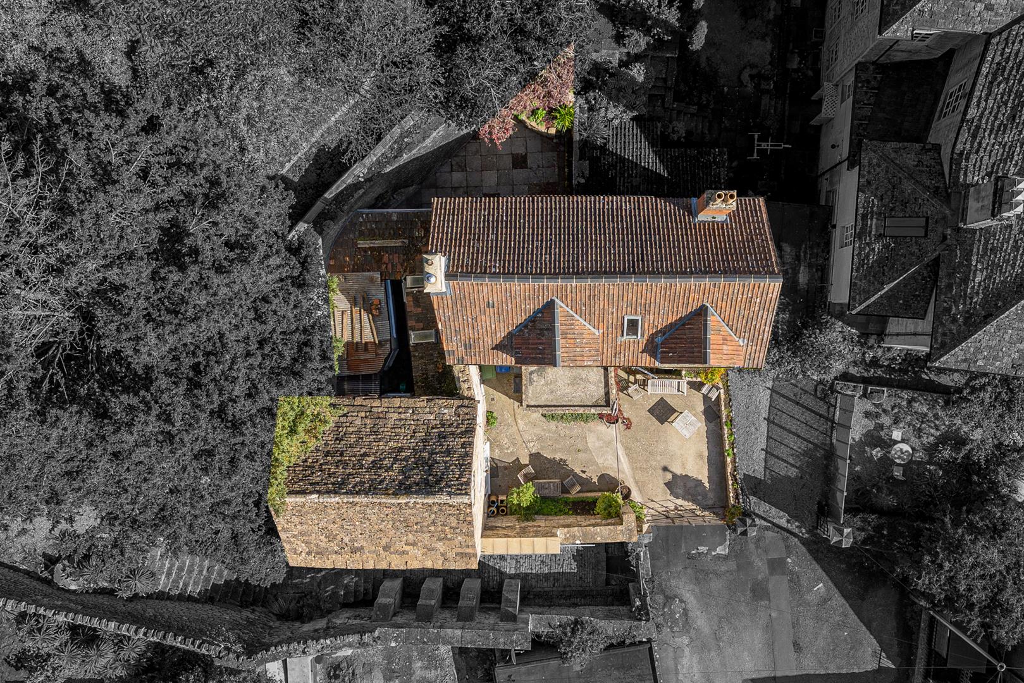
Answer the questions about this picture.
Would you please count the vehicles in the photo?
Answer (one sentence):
Not a single vehicle can be seen.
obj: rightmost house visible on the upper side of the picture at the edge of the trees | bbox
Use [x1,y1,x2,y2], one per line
[812,0,1024,374]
